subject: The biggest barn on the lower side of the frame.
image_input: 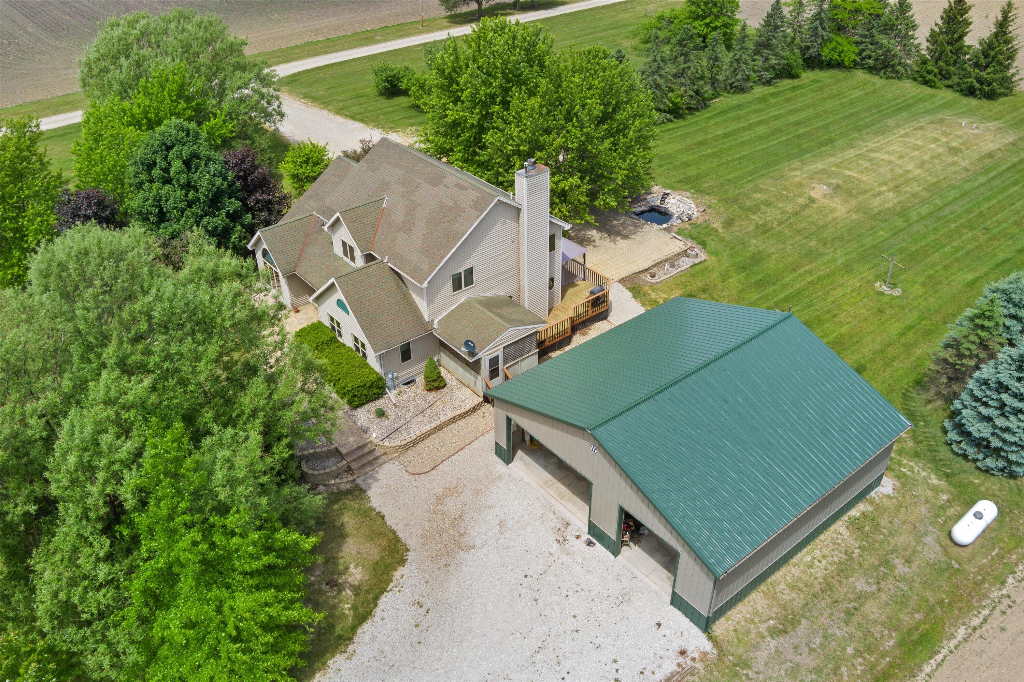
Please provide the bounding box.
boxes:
[483,297,914,642]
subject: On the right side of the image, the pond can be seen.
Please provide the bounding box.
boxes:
[625,187,702,229]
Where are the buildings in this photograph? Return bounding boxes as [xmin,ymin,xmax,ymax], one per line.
[483,297,914,642]
[247,136,573,404]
